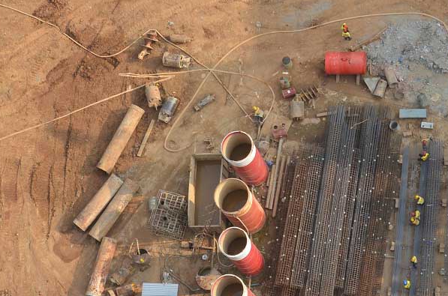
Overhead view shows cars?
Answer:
No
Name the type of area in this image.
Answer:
industrial area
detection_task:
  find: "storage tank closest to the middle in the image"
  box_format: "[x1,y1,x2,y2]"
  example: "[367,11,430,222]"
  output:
[223,130,276,188]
